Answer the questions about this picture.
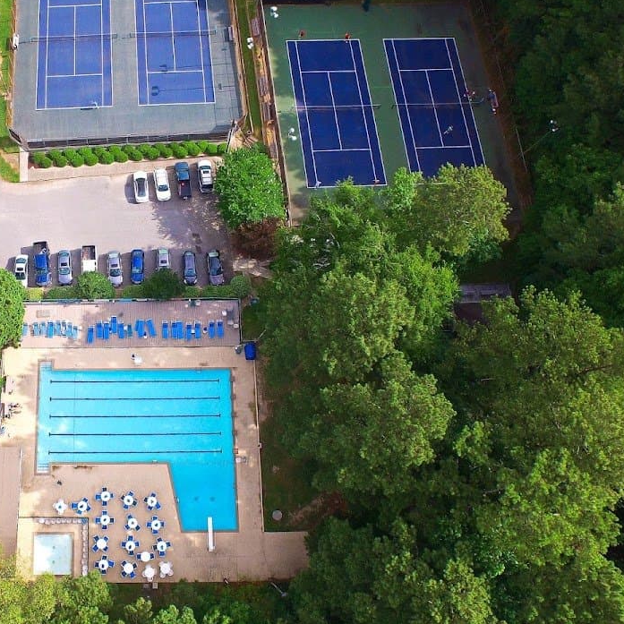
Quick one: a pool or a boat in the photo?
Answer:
pool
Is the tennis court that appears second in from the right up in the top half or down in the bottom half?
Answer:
top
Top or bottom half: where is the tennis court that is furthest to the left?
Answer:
top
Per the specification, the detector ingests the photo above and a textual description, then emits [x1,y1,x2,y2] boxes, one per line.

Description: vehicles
[80,244,96,273]
[129,249,146,284]
[57,249,73,285]
[153,167,170,201]
[182,251,198,285]
[13,253,29,288]
[107,250,124,287]
[197,159,214,194]
[175,160,193,199]
[155,248,170,282]
[132,170,149,205]
[33,240,50,286]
